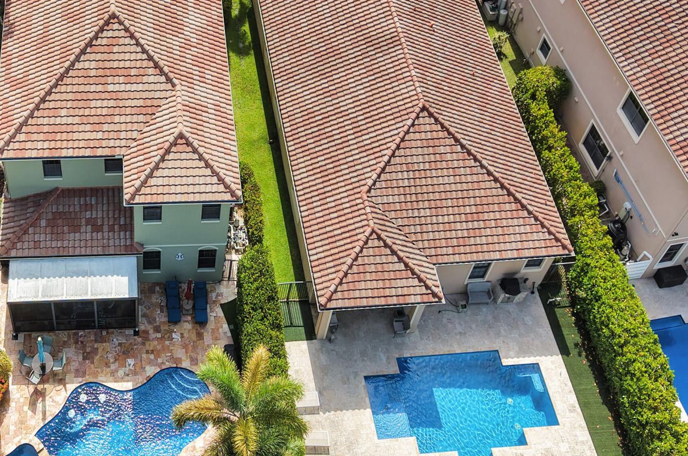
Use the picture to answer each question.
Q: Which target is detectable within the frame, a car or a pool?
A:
pool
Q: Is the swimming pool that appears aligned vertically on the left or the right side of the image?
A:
right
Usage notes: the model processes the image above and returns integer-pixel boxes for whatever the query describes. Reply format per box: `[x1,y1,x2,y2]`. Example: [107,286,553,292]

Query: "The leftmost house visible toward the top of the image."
[0,0,247,282]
